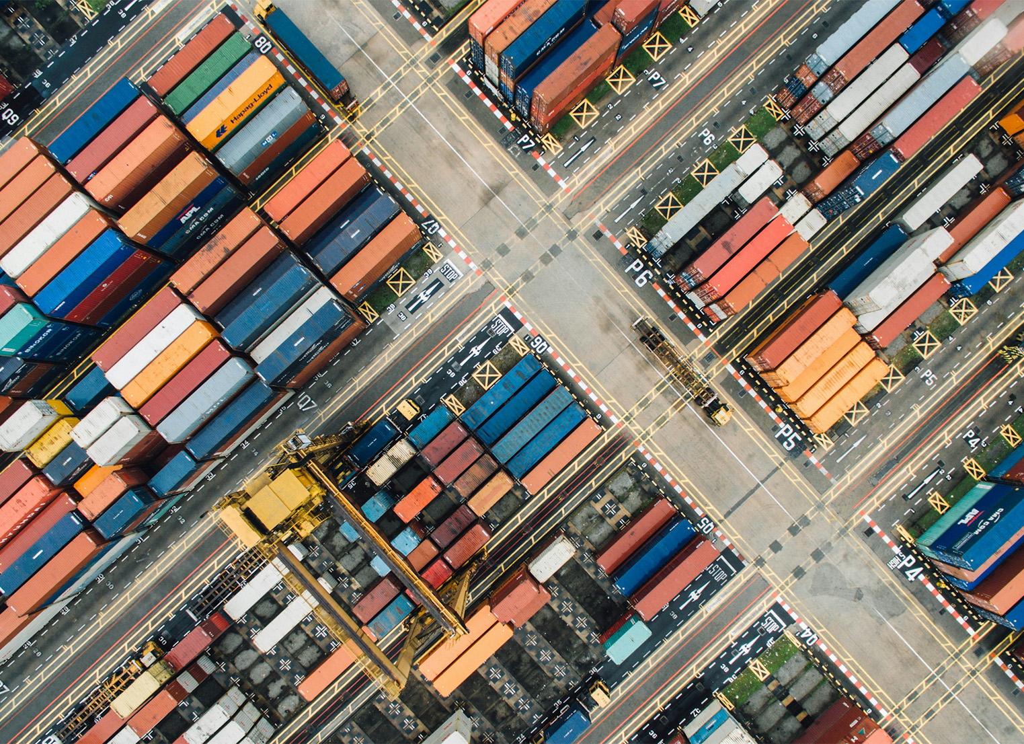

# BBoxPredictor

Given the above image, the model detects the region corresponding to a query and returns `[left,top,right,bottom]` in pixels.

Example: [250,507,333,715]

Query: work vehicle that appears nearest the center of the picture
[388,395,425,434]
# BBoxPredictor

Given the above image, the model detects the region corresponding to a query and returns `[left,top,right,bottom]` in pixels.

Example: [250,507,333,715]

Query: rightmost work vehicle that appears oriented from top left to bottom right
[698,390,739,431]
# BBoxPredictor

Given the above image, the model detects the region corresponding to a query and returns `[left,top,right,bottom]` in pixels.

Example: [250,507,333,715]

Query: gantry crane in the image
[212,418,490,707]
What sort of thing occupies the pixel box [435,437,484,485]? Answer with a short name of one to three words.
shipping container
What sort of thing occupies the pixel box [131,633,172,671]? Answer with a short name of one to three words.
work vehicle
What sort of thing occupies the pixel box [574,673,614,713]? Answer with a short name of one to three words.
work vehicle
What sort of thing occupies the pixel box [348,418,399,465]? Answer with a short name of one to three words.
shipping container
